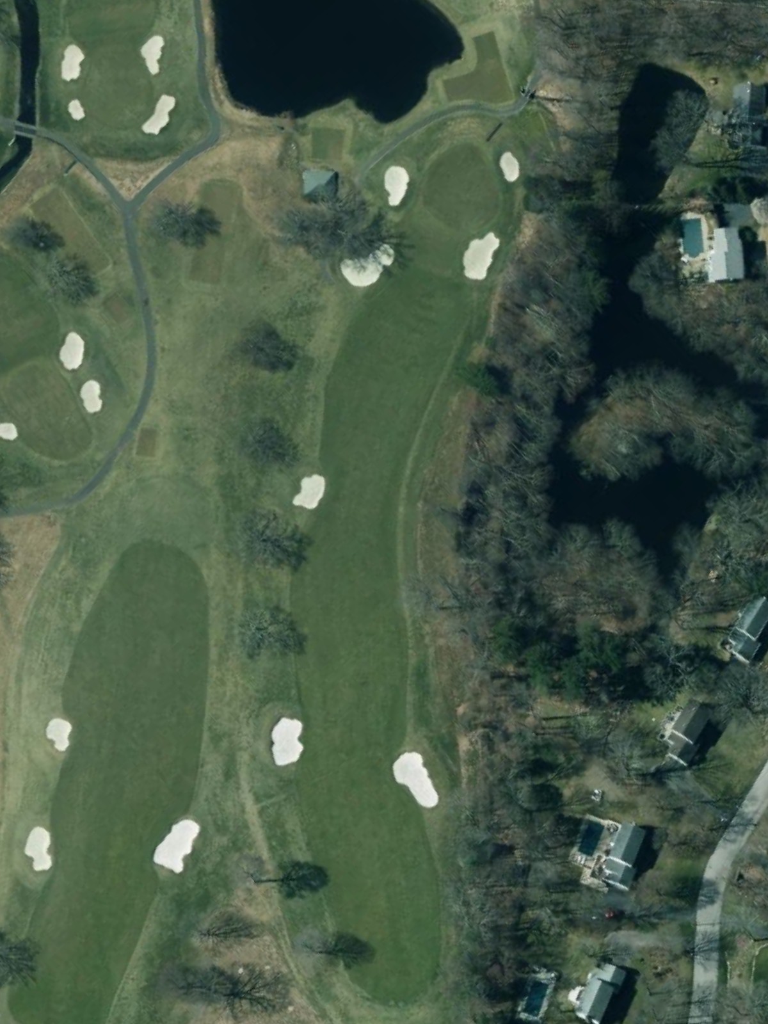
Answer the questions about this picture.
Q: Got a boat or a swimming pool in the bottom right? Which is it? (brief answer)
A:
swimming pool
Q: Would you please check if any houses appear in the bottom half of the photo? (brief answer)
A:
Yes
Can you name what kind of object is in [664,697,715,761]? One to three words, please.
house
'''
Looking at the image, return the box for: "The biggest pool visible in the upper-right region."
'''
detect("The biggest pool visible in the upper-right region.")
[682,218,704,257]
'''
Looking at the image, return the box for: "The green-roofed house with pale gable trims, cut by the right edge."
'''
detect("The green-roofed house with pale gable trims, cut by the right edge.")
[725,595,768,659]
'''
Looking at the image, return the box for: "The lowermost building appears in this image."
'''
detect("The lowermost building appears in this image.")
[576,963,629,1022]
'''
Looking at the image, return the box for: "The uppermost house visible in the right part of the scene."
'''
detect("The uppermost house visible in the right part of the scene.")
[731,80,768,154]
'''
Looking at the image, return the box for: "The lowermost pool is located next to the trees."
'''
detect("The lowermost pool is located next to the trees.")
[523,978,550,1018]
